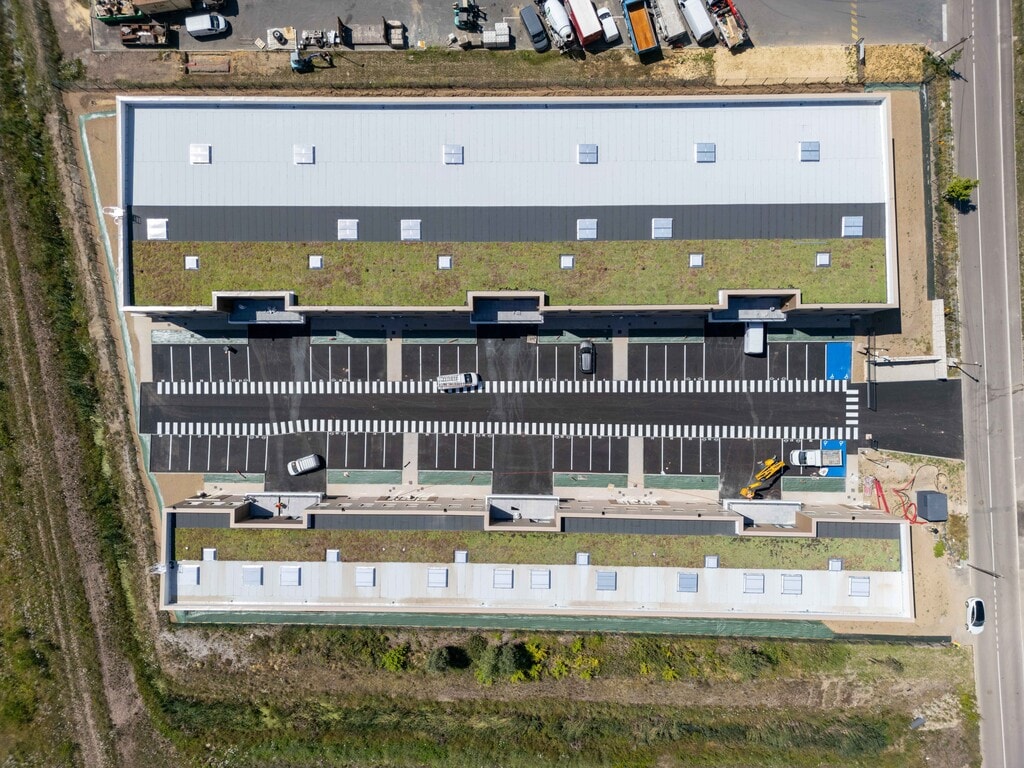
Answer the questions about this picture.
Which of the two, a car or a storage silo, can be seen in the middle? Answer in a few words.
car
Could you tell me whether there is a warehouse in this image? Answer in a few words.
Yes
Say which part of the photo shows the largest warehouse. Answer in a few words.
top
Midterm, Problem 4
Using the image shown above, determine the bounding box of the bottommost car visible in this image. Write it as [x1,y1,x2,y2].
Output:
[964,597,986,633]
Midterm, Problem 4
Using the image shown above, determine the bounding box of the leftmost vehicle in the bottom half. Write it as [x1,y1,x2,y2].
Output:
[286,452,324,477]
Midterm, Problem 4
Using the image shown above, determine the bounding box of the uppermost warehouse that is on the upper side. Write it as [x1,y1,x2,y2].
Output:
[100,92,899,324]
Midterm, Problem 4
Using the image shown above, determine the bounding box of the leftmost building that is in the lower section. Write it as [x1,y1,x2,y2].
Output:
[142,491,916,622]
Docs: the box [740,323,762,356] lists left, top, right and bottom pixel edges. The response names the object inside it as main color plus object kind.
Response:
white vehicle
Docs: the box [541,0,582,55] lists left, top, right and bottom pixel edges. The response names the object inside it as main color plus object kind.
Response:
white truck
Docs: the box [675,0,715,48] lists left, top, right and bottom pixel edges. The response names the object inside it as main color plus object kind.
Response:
white truck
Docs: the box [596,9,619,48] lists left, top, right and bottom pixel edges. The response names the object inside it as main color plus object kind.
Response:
white vehicle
